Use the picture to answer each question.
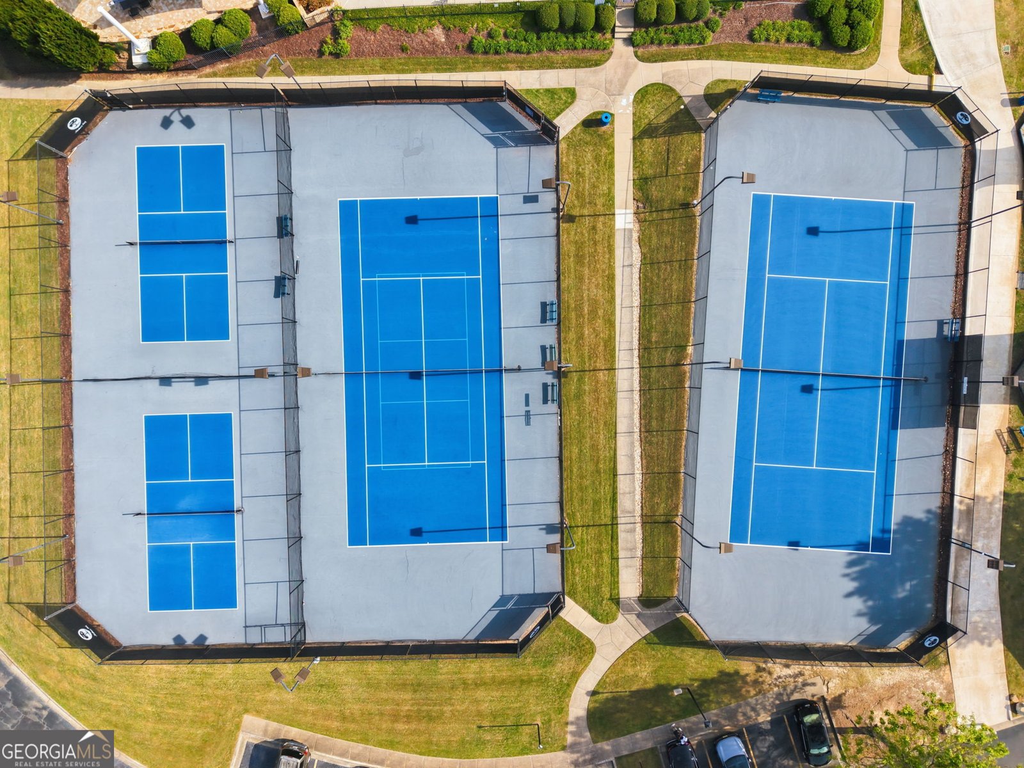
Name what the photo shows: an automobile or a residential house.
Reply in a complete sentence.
The one in the frame is an automobile.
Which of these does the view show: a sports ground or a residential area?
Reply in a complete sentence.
The area seen from above is a sports ground.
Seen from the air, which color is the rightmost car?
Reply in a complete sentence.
From above, the rightmost car appears black.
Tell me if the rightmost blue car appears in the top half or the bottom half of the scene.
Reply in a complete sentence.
The rightmost blue car sits in the bottom half of the picture.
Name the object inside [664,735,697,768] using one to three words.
car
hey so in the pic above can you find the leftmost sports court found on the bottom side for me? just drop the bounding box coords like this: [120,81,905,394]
[71,376,306,646]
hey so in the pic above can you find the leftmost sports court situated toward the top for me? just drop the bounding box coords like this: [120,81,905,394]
[67,105,298,379]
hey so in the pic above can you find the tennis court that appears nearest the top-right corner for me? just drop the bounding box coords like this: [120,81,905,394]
[678,91,965,647]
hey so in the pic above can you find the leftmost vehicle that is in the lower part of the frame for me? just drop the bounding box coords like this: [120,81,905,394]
[276,739,309,768]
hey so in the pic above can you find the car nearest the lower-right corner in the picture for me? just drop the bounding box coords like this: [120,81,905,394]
[791,695,833,766]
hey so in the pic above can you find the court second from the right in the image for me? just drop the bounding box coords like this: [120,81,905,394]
[291,101,560,643]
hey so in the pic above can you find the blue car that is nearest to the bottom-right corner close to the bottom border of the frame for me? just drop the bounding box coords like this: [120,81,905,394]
[716,731,754,768]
